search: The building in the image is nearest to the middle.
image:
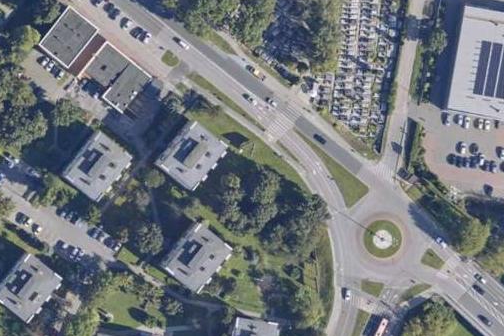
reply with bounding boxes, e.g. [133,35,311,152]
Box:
[156,121,229,190]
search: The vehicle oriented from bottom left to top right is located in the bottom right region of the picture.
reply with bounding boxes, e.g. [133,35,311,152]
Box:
[374,316,391,336]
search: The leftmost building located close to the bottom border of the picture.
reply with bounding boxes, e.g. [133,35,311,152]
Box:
[0,253,63,323]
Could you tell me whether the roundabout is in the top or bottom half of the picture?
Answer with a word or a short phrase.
bottom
